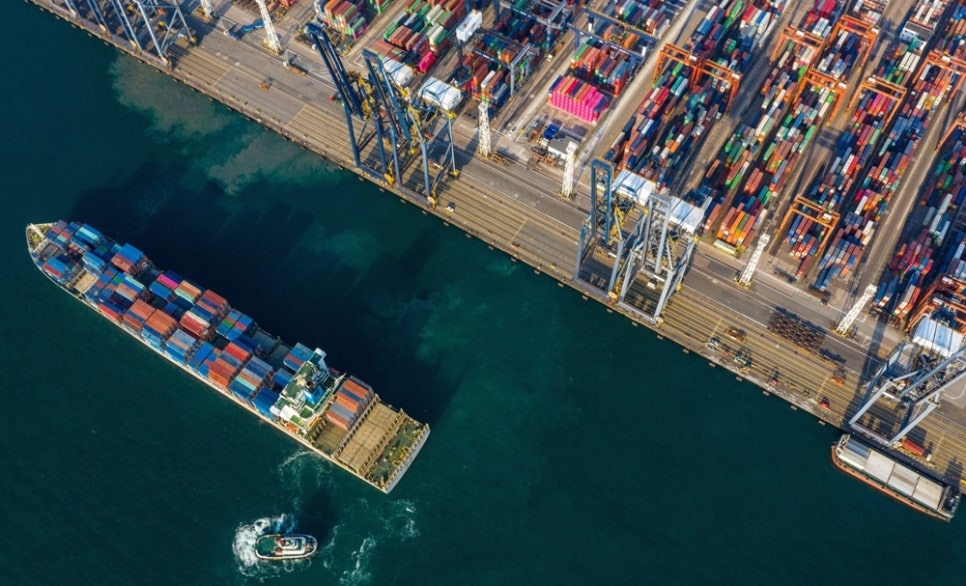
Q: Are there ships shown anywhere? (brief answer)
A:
Yes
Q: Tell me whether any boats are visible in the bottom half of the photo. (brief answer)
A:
Yes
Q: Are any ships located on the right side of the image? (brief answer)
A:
Yes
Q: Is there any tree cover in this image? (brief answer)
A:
No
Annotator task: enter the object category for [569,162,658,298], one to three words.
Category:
container crane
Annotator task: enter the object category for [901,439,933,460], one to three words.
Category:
truck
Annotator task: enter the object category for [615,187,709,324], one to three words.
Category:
container crane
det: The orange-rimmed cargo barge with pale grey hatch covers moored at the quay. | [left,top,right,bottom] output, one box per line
[828,433,961,525]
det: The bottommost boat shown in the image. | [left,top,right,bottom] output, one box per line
[257,534,319,559]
